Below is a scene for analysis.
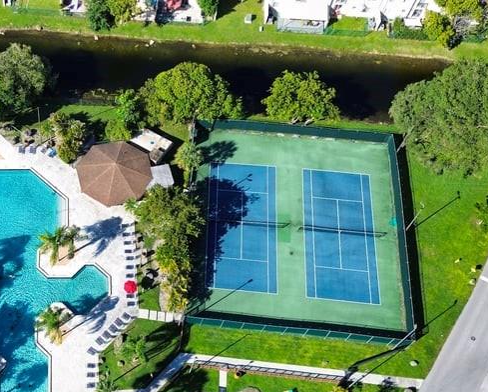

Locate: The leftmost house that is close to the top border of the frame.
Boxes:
[270,0,329,32]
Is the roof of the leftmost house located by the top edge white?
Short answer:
Yes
